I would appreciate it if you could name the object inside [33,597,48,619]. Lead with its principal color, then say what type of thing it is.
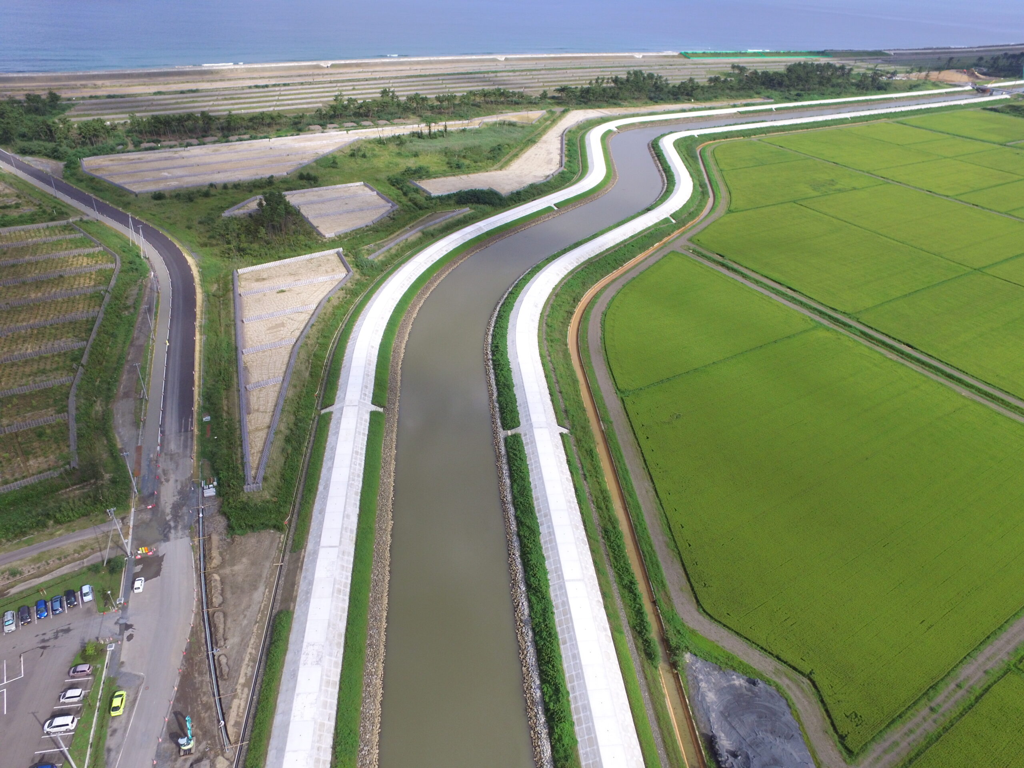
blue car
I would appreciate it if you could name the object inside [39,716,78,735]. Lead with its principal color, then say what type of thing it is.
white car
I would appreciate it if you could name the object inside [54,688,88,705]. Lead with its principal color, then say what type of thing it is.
white car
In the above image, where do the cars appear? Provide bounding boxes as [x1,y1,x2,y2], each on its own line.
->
[79,579,93,602]
[39,716,78,735]
[65,663,95,679]
[54,688,88,705]
[48,593,63,615]
[108,688,127,717]
[133,575,146,592]
[33,597,48,619]
[17,604,31,625]
[64,587,77,607]
[0,608,16,633]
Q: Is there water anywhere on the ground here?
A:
Yes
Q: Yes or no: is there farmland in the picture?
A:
Yes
